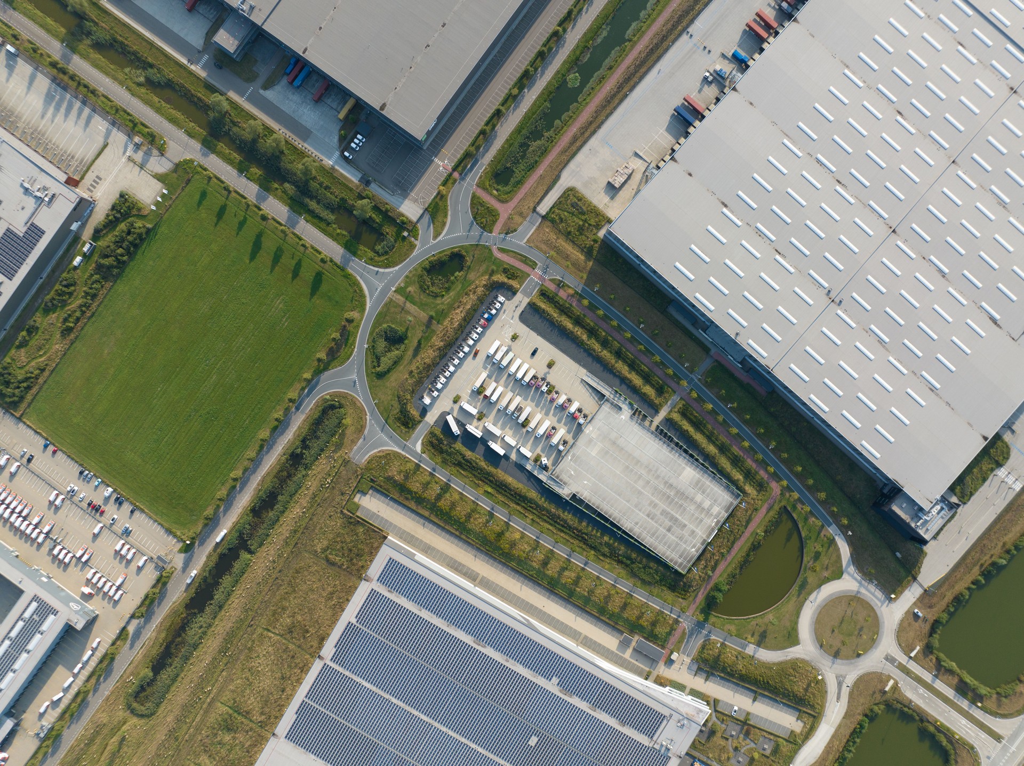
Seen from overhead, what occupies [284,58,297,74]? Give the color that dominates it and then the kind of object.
blue vehicle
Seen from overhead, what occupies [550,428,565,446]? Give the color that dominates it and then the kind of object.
white vehicle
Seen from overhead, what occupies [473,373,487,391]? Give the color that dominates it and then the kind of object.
white vehicle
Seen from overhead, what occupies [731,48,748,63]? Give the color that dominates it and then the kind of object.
blue vehicle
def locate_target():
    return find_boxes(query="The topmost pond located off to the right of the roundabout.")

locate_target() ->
[937,550,1024,690]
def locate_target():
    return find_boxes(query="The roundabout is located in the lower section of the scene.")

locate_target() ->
[799,580,895,673]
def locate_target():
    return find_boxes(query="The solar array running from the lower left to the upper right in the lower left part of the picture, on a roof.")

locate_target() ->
[0,595,58,692]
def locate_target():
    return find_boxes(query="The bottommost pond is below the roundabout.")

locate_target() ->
[848,705,946,766]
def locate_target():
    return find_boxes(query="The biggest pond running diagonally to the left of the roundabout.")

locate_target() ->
[710,506,803,617]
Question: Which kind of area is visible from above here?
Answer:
industrial area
